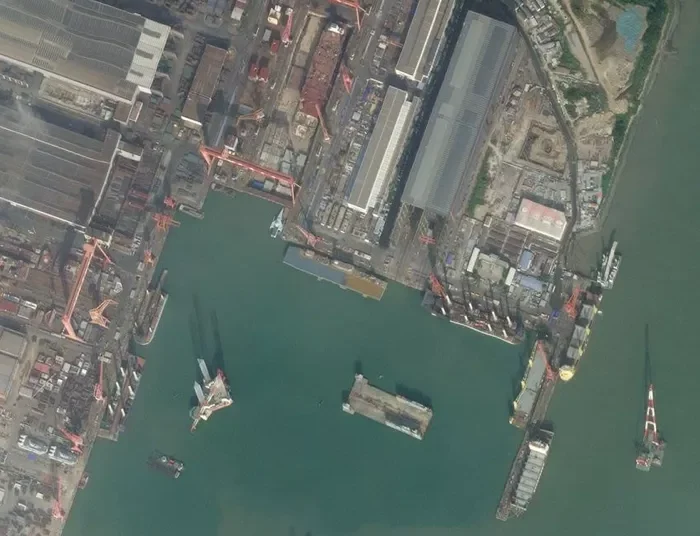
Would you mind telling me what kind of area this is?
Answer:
port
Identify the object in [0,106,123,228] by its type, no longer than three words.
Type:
shed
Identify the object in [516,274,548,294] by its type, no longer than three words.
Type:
building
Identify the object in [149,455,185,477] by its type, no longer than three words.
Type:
ship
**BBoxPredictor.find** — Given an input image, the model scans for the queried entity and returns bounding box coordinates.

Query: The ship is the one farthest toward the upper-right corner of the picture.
[596,241,623,291]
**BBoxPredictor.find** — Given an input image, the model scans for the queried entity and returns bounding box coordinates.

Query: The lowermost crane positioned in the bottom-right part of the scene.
[635,384,663,472]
